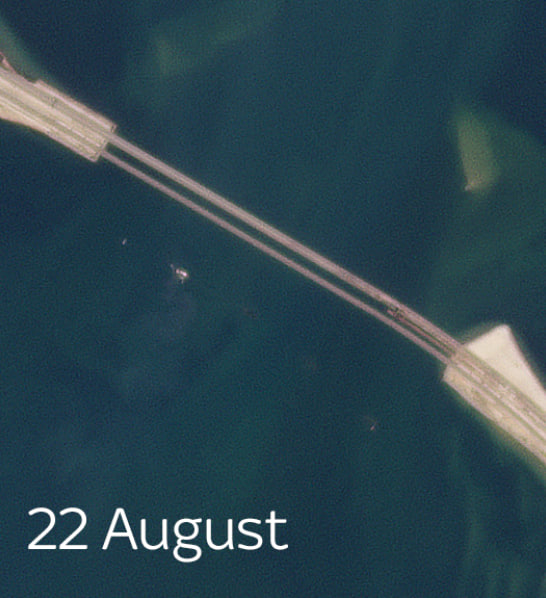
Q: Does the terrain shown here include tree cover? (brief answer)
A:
No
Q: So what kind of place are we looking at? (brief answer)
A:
port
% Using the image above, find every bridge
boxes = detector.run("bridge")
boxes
[108,133,462,352]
